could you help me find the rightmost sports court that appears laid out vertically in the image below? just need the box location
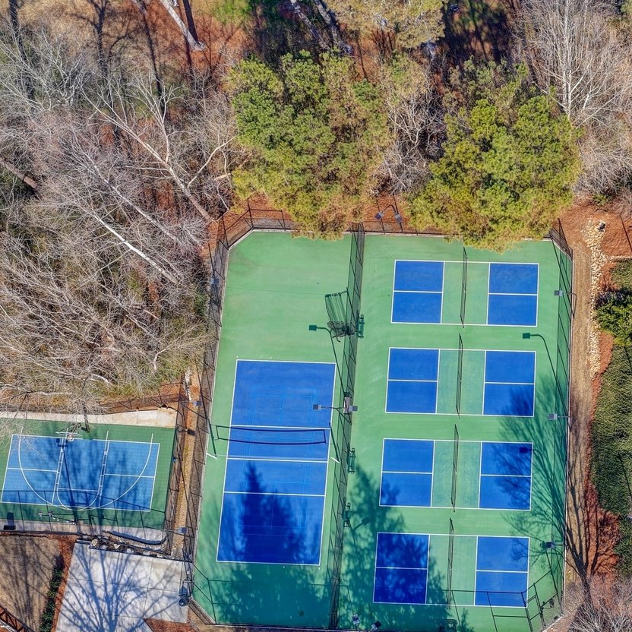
[194,230,365,628]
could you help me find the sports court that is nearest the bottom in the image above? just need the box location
[337,518,564,632]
